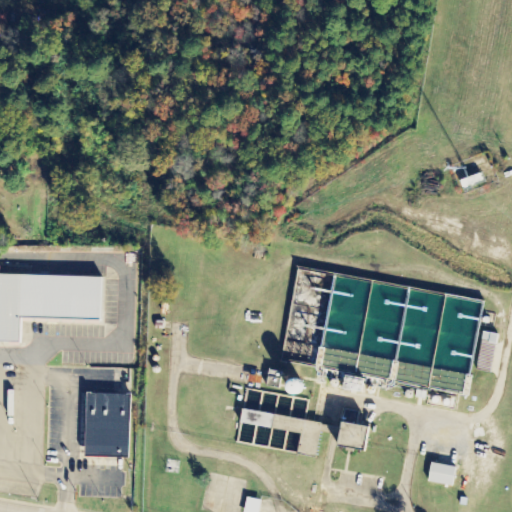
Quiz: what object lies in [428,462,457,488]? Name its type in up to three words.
building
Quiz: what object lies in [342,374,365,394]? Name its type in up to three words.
building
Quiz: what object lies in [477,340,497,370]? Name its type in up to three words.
shed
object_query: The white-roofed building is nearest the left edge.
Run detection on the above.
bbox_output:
[0,274,106,343]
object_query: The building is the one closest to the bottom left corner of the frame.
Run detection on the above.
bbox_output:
[85,392,132,458]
